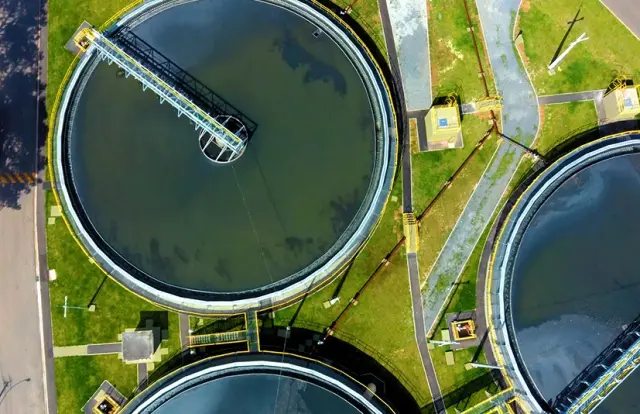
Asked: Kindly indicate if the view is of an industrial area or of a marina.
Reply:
industrial area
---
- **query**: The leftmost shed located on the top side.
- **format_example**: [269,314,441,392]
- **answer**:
[427,96,461,141]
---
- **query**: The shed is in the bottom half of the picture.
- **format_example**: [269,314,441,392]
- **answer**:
[118,327,168,371]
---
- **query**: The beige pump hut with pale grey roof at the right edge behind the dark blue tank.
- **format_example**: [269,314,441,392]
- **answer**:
[606,76,640,124]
